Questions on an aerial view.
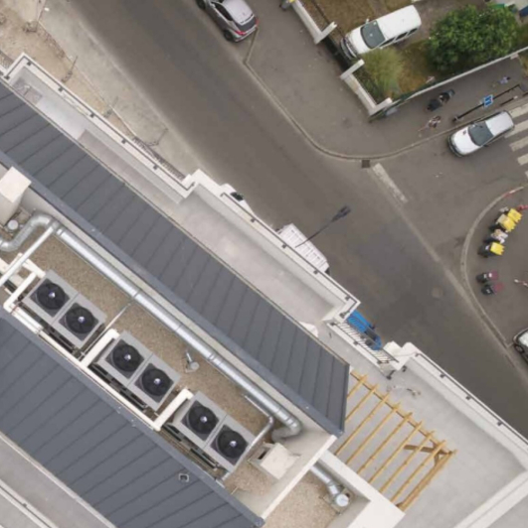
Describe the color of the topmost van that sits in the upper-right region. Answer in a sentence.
The color of the topmost van that sits in the upper-right region is white.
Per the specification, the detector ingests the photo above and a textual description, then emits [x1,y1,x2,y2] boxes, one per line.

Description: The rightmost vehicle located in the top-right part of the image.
[442,106,519,160]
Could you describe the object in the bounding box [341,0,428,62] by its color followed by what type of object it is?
white van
